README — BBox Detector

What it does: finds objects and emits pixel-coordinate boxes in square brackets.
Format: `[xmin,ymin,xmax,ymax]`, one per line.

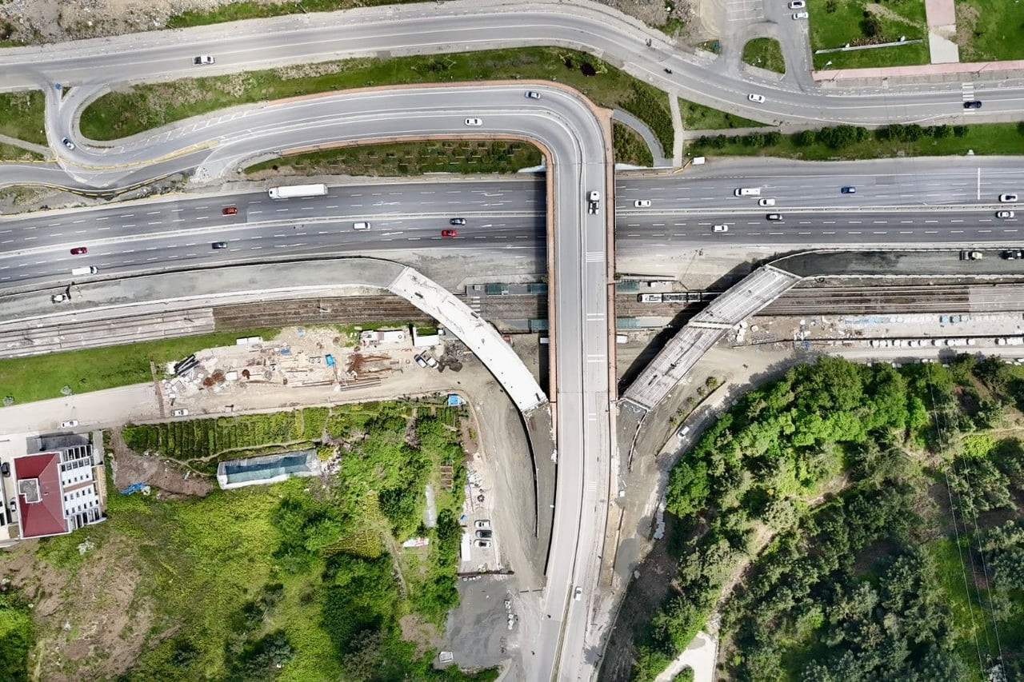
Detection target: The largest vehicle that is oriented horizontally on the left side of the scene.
[267,181,327,198]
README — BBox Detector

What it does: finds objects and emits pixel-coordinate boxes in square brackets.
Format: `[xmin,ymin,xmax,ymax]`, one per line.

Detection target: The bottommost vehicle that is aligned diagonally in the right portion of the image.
[675,423,691,442]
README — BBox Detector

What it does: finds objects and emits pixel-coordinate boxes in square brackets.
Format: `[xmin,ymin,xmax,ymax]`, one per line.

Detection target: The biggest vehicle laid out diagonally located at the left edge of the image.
[44,279,74,308]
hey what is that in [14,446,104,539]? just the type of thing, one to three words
building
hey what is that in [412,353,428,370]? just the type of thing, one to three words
car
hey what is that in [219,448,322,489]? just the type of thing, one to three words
greenhouse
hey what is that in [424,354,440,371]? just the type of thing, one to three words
vehicle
